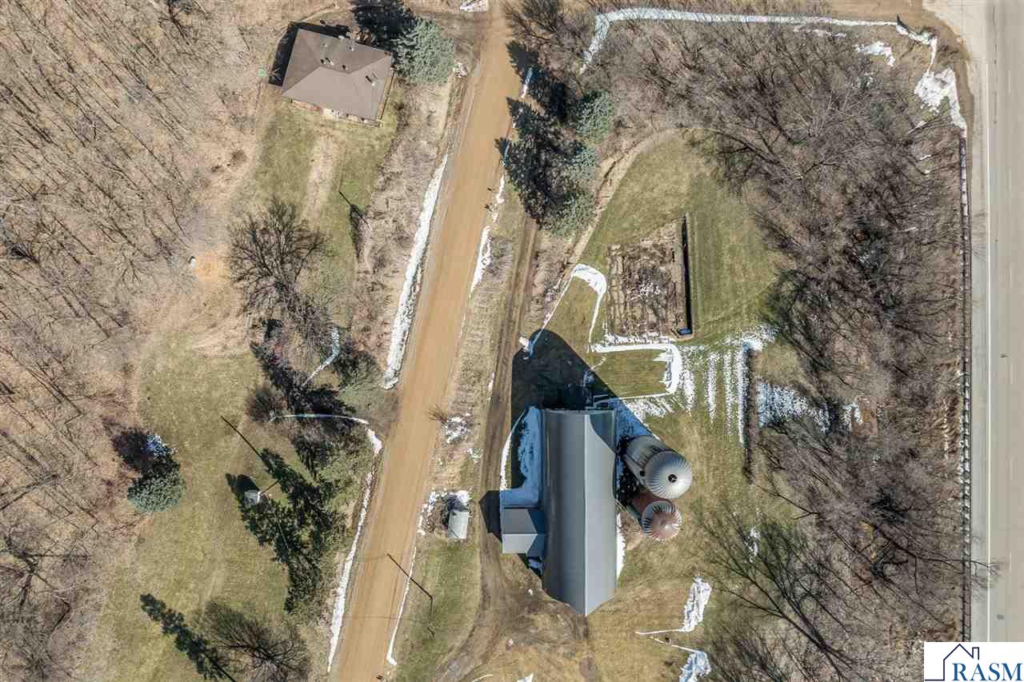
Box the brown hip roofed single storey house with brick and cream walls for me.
[282,29,399,128]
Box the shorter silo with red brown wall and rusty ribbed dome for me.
[624,483,682,543]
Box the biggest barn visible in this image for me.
[542,410,616,618]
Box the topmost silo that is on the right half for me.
[621,435,694,501]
